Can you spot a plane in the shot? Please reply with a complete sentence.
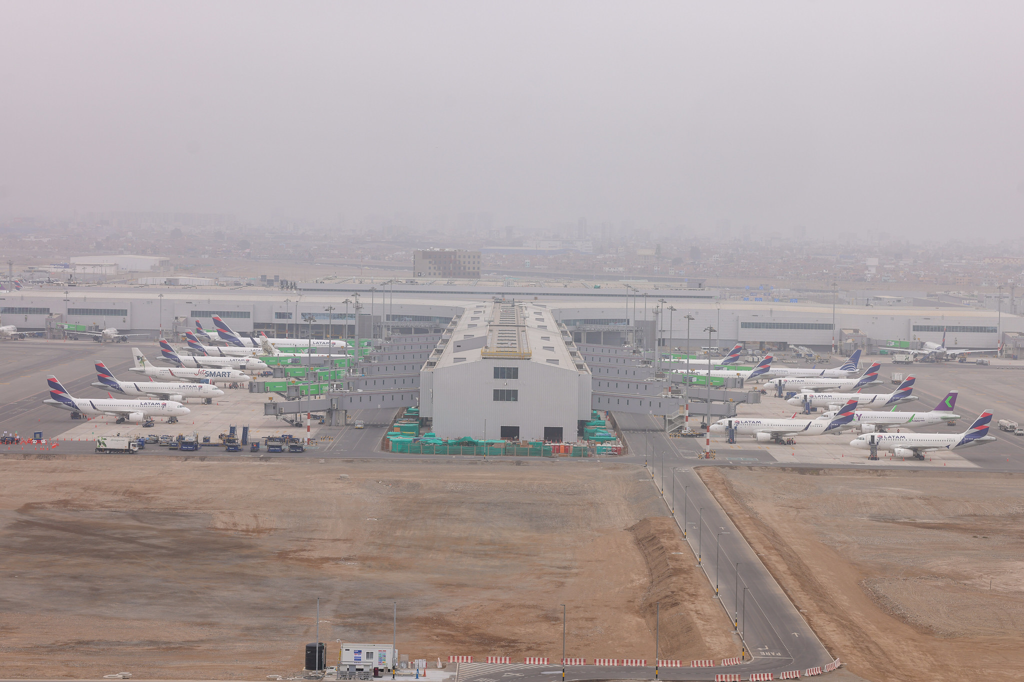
Yes, the frame does contain a plane.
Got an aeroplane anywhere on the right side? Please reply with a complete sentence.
Yes, looking on the right side, one can make out an aeroplane.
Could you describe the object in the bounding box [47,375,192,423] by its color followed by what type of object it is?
white airplane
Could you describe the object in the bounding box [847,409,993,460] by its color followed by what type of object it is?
white airplane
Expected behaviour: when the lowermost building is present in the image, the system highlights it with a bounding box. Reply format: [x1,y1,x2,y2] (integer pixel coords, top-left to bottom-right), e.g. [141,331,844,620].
[337,640,399,673]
